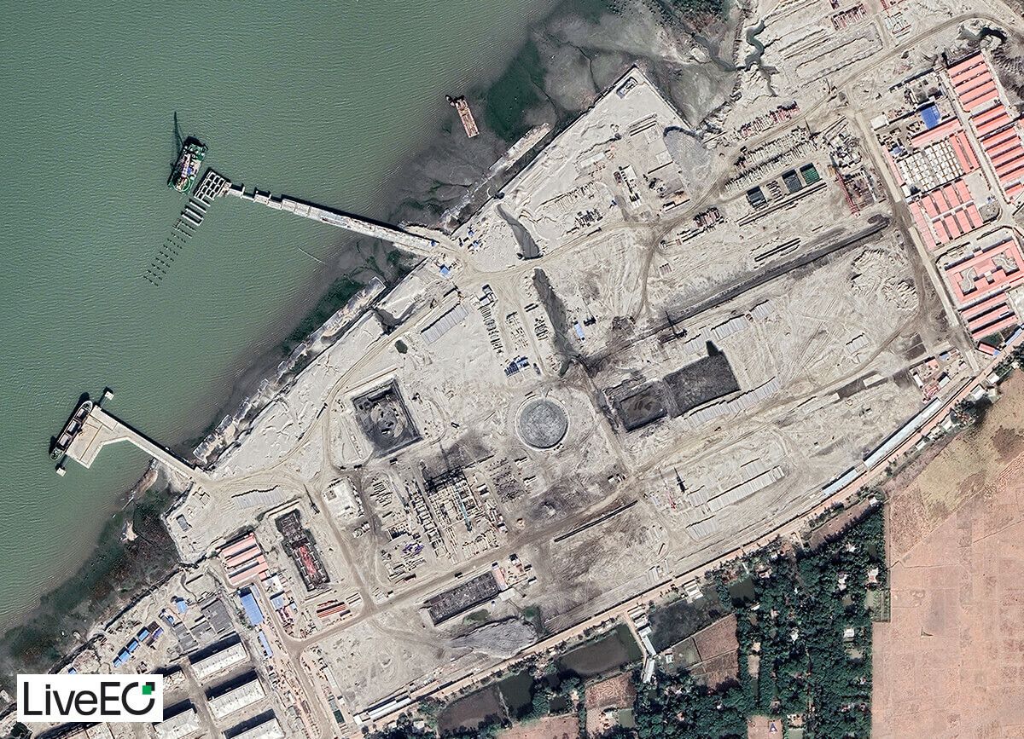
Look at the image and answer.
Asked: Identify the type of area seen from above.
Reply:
port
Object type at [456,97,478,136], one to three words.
ship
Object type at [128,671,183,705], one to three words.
building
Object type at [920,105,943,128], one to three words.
building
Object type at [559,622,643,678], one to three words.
pond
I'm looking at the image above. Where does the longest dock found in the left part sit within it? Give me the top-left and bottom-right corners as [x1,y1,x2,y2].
[228,185,438,252]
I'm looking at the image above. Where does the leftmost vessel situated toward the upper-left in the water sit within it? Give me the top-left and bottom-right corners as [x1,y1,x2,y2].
[169,142,208,192]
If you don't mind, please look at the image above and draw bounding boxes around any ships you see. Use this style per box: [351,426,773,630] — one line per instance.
[49,400,92,460]
[456,97,478,136]
[169,142,208,192]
